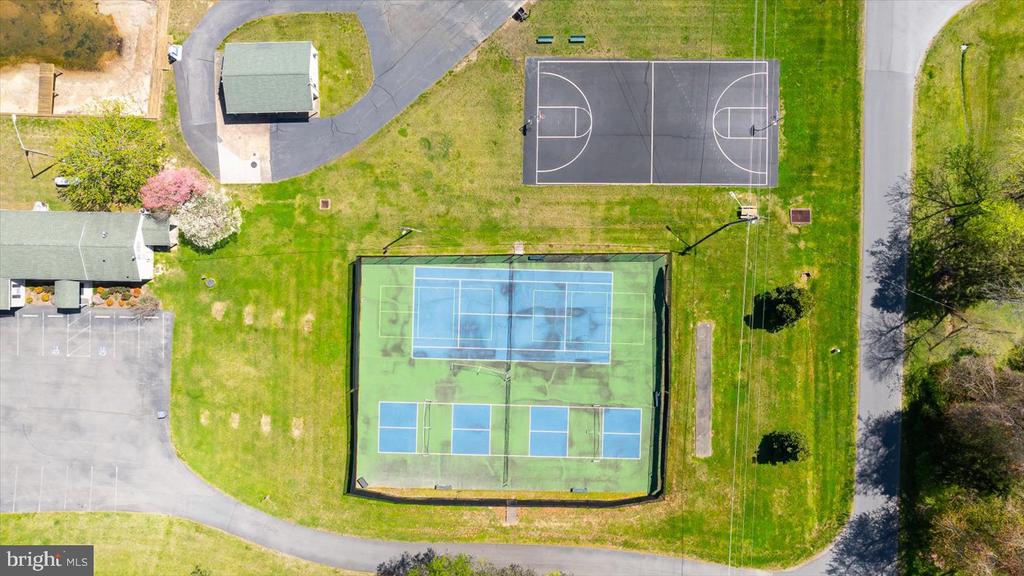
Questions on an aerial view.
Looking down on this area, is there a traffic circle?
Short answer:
No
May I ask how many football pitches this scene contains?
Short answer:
none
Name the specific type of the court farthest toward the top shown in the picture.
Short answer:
basketball court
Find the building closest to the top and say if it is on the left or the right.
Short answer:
left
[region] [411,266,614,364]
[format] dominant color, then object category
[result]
blue tennis court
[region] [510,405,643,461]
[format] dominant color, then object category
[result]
blue sports court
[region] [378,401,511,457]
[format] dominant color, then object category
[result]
blue sports court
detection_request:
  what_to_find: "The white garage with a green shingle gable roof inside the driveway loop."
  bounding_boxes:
[222,42,323,117]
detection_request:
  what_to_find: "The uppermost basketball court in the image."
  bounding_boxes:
[523,57,779,188]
